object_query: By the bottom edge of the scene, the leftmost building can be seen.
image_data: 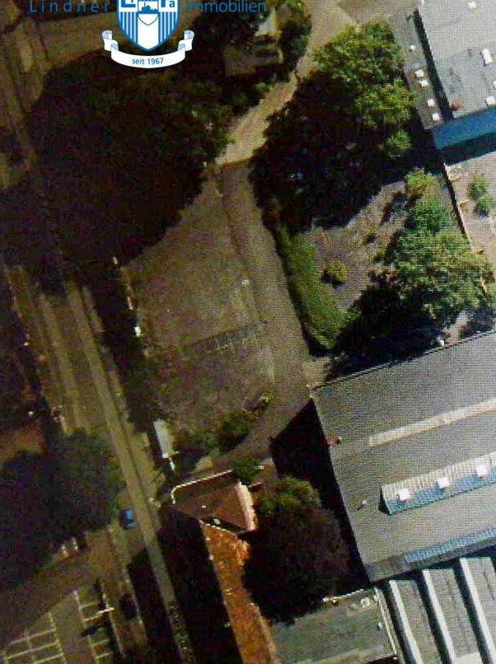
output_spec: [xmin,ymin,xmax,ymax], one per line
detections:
[189,523,278,664]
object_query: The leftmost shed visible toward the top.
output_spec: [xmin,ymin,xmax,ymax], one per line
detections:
[247,7,284,48]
